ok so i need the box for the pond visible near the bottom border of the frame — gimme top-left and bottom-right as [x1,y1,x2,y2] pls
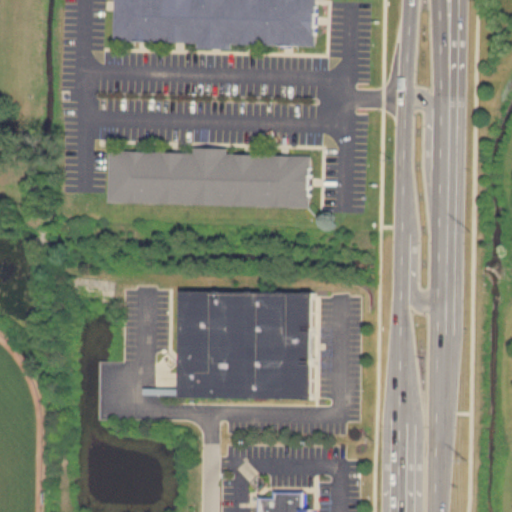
[81,310,176,512]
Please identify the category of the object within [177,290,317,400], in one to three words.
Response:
building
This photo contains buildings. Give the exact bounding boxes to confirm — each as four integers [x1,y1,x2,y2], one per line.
[105,148,314,208]
[258,490,308,512]
[177,290,317,400]
[114,0,322,50]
